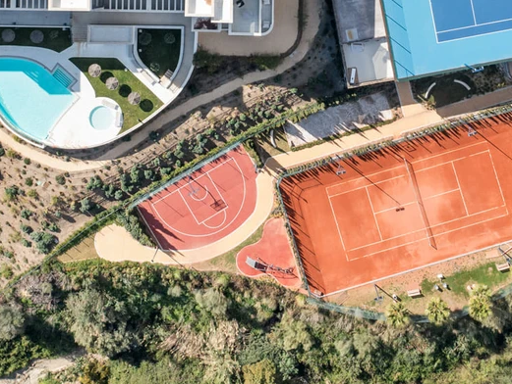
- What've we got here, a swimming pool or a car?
swimming pool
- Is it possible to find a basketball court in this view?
Yes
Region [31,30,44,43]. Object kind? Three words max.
umbrella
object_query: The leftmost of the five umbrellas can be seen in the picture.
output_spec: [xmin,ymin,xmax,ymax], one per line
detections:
[2,29,16,41]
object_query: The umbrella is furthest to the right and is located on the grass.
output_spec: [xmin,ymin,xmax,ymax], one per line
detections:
[128,92,142,105]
